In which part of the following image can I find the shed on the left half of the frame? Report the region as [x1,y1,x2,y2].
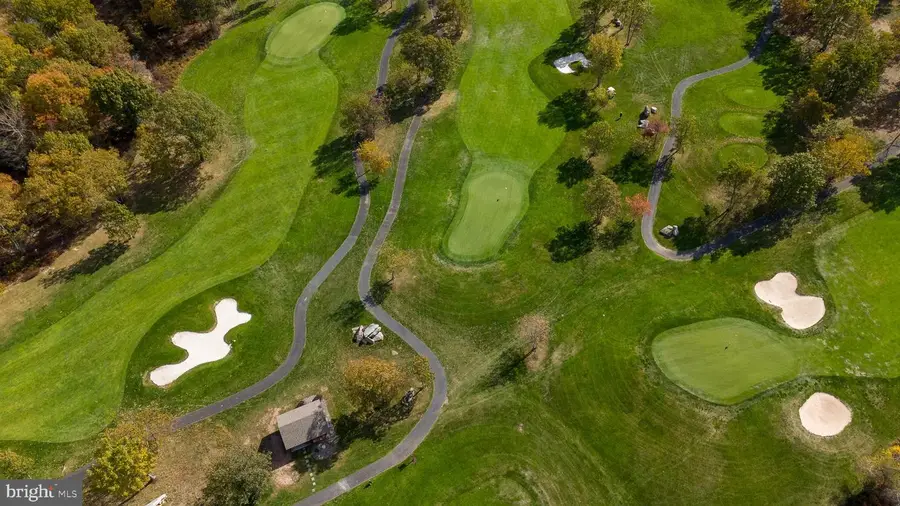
[277,399,343,456]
